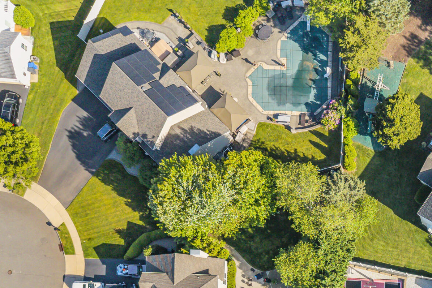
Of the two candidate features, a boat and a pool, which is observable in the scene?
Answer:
pool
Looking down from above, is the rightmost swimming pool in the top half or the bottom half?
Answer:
top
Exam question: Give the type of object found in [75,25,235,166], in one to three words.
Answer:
house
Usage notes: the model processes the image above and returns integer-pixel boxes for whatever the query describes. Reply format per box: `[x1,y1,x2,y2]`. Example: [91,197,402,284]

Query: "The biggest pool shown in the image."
[242,17,332,115]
